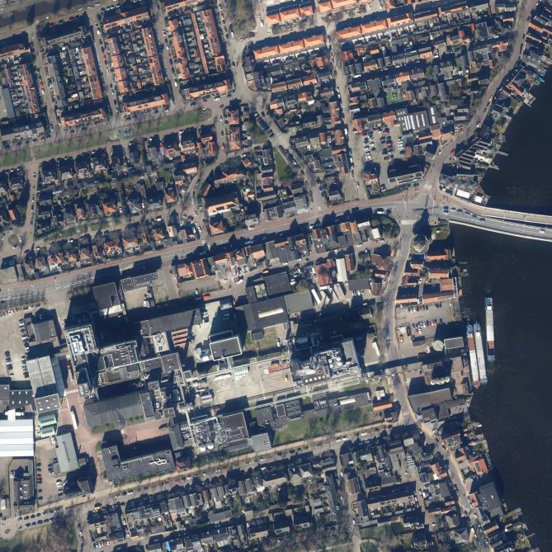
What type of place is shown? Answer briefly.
residential area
